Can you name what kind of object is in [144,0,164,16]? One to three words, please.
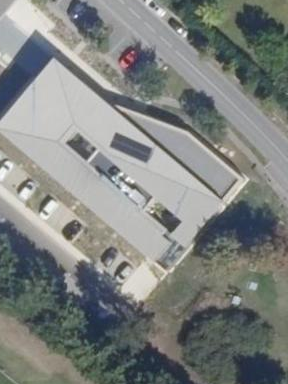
car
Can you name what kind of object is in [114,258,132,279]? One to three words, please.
car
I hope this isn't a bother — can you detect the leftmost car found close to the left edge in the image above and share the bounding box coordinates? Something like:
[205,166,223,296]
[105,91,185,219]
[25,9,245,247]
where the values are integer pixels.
[0,159,13,180]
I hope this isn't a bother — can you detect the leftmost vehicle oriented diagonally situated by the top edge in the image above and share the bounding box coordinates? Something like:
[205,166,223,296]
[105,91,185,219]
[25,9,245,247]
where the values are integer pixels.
[66,0,86,22]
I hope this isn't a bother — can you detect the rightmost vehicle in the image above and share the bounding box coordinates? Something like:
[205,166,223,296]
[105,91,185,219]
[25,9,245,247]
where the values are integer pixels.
[168,16,188,38]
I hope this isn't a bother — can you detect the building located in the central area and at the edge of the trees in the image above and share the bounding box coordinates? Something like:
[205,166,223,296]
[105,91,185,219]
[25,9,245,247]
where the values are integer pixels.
[0,58,250,274]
